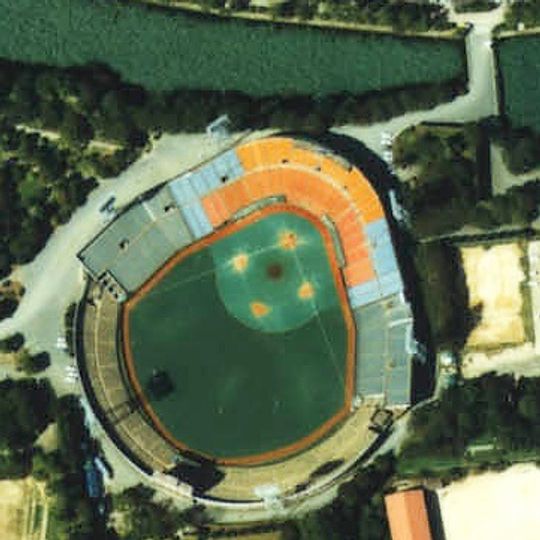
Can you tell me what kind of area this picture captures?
sports ground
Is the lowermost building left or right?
right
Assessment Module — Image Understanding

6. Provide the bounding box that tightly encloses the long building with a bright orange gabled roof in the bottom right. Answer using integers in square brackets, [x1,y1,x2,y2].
[385,489,432,540]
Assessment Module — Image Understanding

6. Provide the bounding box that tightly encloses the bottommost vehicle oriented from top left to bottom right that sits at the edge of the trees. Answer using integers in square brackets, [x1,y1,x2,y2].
[94,459,109,478]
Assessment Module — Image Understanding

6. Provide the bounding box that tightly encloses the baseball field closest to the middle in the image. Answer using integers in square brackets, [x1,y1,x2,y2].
[120,204,355,466]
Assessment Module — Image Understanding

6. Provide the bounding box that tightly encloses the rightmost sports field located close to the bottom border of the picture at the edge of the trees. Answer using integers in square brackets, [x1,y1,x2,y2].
[433,465,540,540]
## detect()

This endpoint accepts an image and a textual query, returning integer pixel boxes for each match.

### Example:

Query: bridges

[469,41,499,117]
